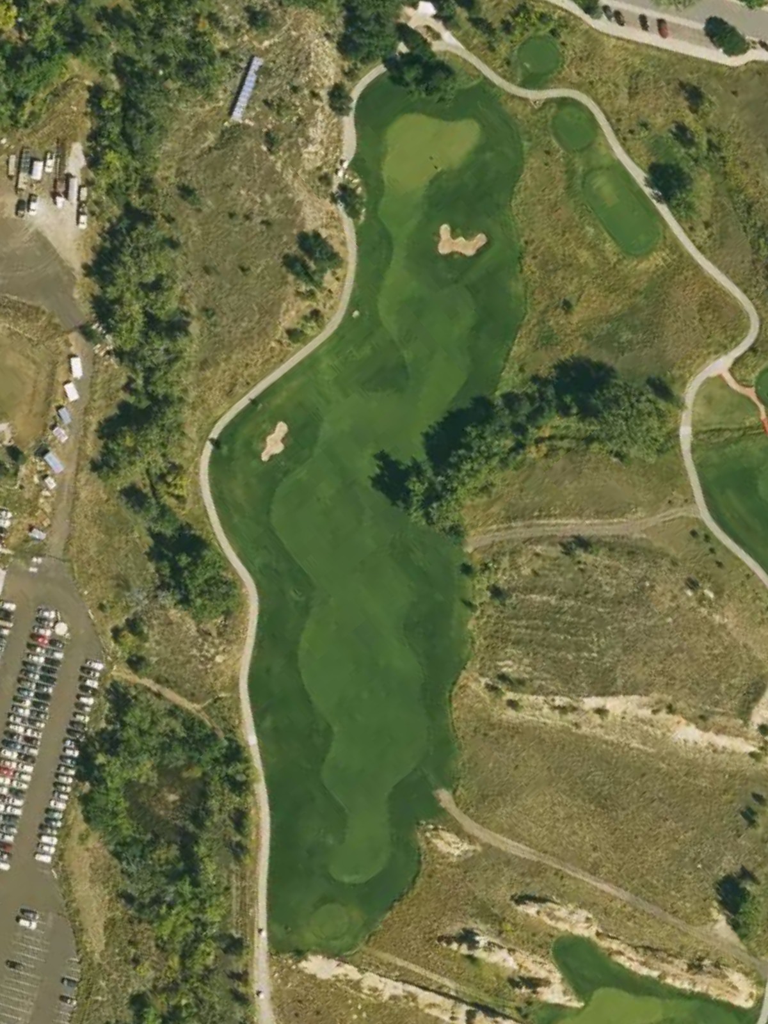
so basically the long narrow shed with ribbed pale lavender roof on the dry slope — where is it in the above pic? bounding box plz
[231,55,265,121]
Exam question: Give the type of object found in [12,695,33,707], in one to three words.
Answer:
vehicle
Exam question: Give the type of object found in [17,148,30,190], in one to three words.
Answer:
vehicle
